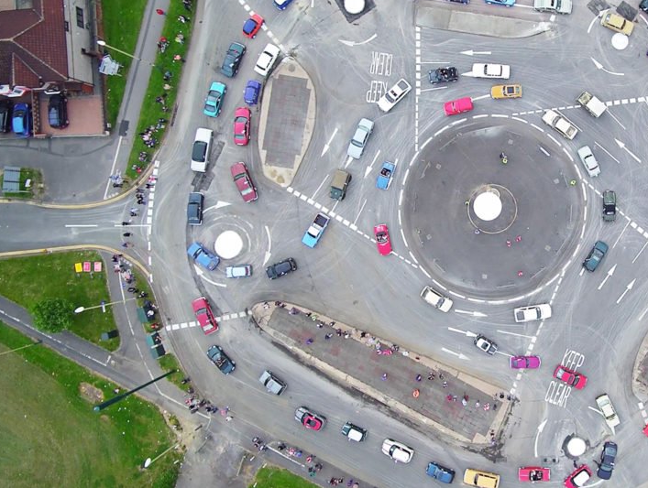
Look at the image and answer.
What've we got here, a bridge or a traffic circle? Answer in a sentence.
The one in the frame is a traffic circle.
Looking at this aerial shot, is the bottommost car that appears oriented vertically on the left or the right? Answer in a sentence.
It is on the right.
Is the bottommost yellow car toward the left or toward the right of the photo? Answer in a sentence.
You can find the bottommost yellow car on the right side of the picture.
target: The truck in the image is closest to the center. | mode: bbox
[303,210,332,249]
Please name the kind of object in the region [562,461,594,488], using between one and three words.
car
